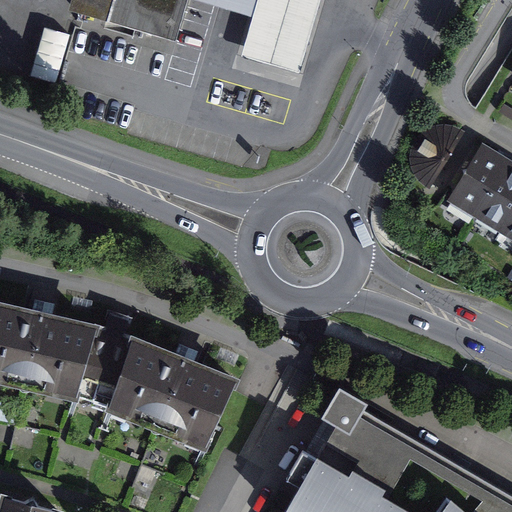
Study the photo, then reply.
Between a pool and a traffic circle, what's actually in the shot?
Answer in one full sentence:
There is a traffic circle in the scene.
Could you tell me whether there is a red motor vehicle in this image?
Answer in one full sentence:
Yes, a red motor vehicle can be made out from above.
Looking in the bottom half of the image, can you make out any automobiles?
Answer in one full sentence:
Yes, there is an automobile in the bottom half of the image.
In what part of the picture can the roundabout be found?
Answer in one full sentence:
The roundabout is in the center part of the image.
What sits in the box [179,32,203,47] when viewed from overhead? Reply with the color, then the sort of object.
white vehicle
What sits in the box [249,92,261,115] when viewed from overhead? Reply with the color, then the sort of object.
white vehicle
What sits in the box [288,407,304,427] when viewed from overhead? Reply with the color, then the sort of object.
red car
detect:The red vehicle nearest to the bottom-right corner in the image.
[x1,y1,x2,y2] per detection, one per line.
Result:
[454,305,478,322]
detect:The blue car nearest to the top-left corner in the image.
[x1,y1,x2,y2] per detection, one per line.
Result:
[100,40,112,61]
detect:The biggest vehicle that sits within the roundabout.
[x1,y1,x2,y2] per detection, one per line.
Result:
[350,211,374,248]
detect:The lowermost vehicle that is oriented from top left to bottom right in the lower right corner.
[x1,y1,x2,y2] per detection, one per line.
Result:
[418,428,440,446]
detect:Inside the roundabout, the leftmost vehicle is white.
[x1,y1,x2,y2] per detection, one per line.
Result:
[254,232,266,255]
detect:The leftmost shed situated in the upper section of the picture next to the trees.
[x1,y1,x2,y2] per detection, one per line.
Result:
[30,28,70,82]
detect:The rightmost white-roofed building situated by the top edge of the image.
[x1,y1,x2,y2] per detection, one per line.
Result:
[242,0,320,72]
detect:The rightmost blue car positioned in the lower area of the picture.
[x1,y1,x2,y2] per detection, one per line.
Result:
[464,338,486,354]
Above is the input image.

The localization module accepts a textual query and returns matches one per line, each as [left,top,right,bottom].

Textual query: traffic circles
[236,180,375,319]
